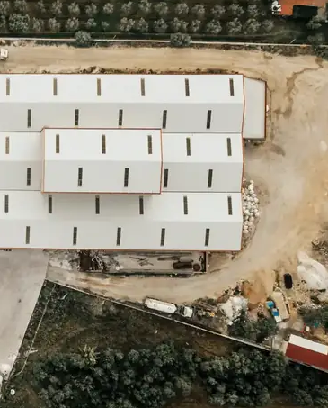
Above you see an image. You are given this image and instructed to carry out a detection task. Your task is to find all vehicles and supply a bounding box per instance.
[0,48,8,58]
[271,290,294,320]
[146,298,195,319]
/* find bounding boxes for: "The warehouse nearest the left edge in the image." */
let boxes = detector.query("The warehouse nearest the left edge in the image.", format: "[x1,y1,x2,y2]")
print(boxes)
[0,73,246,252]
